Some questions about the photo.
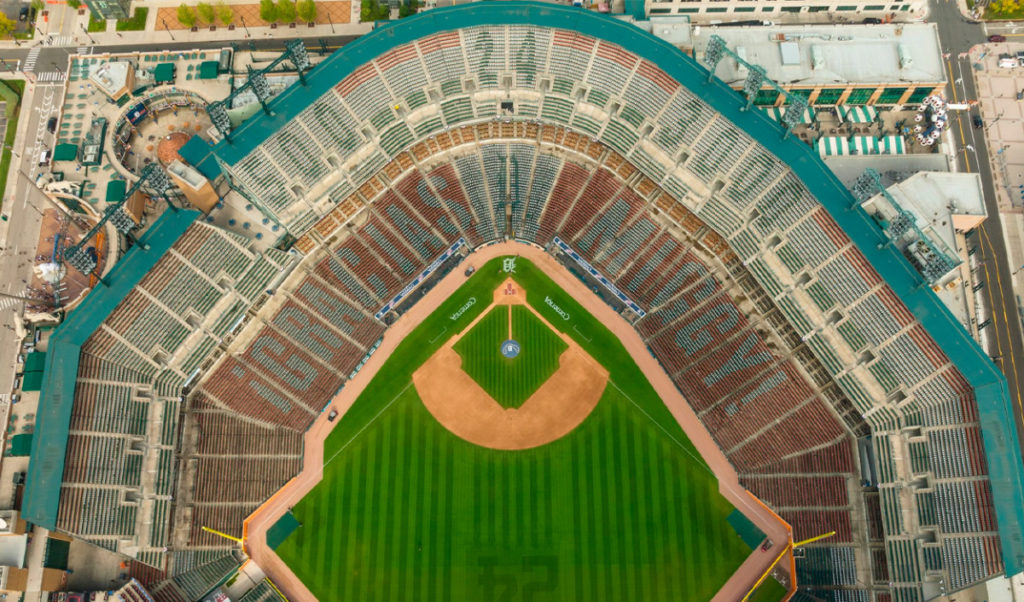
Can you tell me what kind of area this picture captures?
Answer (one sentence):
The picture captures a sports ground.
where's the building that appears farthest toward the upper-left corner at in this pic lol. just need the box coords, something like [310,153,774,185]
[87,0,139,30]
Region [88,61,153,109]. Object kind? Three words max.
building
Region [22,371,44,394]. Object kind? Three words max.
tent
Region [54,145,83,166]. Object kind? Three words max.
tent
